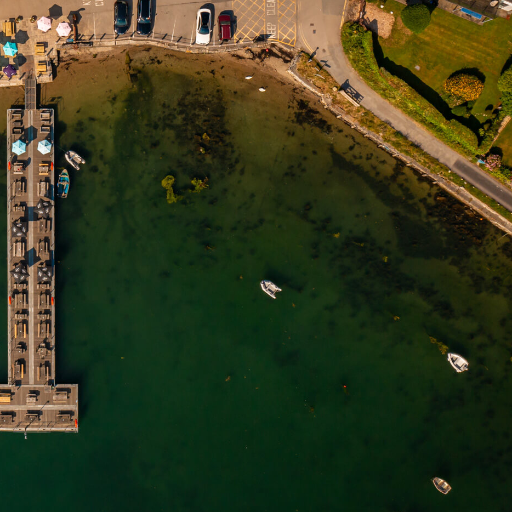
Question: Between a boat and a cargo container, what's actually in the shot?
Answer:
boat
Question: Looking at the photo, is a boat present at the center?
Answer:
Yes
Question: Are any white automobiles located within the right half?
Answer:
No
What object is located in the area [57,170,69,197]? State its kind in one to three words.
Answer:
boat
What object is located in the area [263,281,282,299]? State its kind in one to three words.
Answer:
boat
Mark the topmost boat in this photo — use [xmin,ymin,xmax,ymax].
[66,151,86,171]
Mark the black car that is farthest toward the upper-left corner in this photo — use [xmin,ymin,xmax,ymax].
[114,1,131,36]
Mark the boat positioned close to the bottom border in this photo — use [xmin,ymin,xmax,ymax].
[435,479,453,497]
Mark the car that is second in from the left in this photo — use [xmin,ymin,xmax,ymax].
[136,0,154,34]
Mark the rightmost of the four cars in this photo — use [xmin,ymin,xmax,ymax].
[217,12,234,45]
